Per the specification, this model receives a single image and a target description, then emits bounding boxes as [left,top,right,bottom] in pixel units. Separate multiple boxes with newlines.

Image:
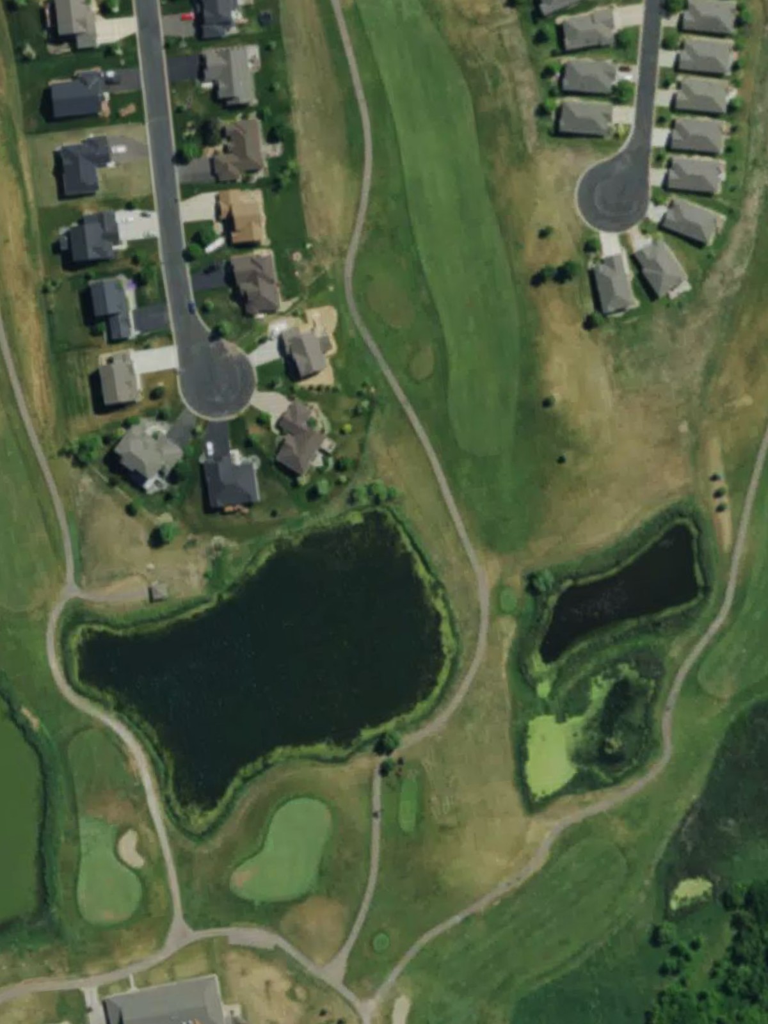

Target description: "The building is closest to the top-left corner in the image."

[45,0,97,48]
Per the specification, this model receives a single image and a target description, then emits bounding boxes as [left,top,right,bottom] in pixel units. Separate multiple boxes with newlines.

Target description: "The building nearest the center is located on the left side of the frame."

[273,395,335,480]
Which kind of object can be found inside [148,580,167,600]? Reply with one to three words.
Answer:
gazebo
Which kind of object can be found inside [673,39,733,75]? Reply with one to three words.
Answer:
house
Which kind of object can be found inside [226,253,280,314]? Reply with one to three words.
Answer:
house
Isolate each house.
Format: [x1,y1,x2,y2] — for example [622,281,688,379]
[200,0,247,37]
[561,61,617,93]
[276,325,333,379]
[45,0,97,48]
[58,210,119,262]
[98,347,138,407]
[209,119,264,183]
[214,188,264,245]
[87,279,131,341]
[662,158,720,192]
[201,47,255,104]
[49,70,104,117]
[561,11,618,51]
[204,452,258,507]
[666,119,725,153]
[591,250,633,315]
[631,237,688,302]
[226,253,280,314]
[669,79,729,115]
[558,102,615,135]
[273,395,335,480]
[658,197,723,246]
[112,417,185,496]
[677,0,736,33]
[61,134,112,196]
[673,39,733,75]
